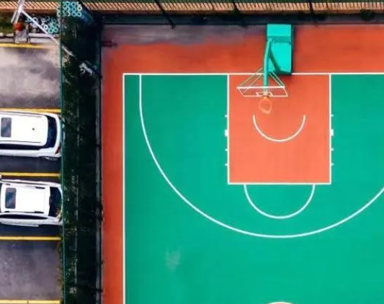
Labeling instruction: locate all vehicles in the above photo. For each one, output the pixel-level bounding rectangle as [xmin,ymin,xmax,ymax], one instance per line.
[0,110,71,161]
[0,180,71,229]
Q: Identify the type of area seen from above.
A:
sports ground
